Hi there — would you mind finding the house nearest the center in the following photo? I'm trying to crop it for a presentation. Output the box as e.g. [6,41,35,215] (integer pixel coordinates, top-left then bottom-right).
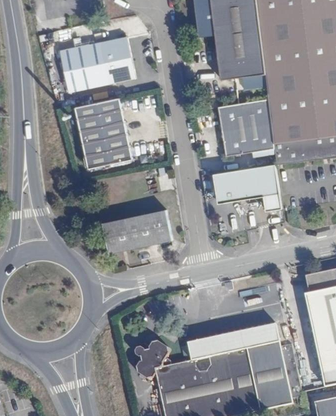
[102,209,174,252]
